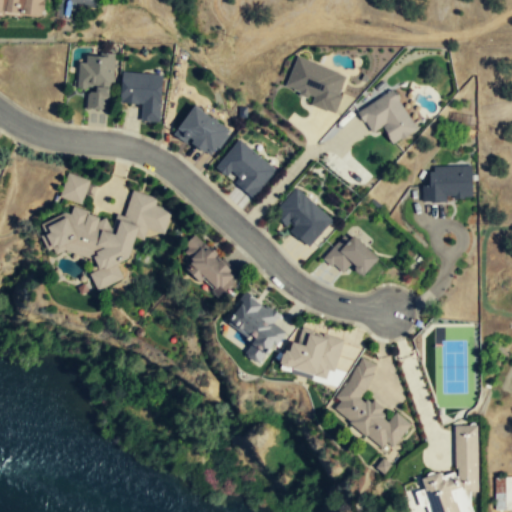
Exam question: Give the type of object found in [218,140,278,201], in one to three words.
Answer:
house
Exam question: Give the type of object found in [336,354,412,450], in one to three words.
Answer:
house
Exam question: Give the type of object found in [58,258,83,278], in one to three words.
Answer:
swimming pool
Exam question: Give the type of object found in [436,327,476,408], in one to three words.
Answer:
tennis court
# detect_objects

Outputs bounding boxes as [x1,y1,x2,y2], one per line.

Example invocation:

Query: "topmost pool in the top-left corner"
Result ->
[72,47,93,72]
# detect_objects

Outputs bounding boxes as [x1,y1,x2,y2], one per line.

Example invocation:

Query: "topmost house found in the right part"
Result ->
[289,56,346,112]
